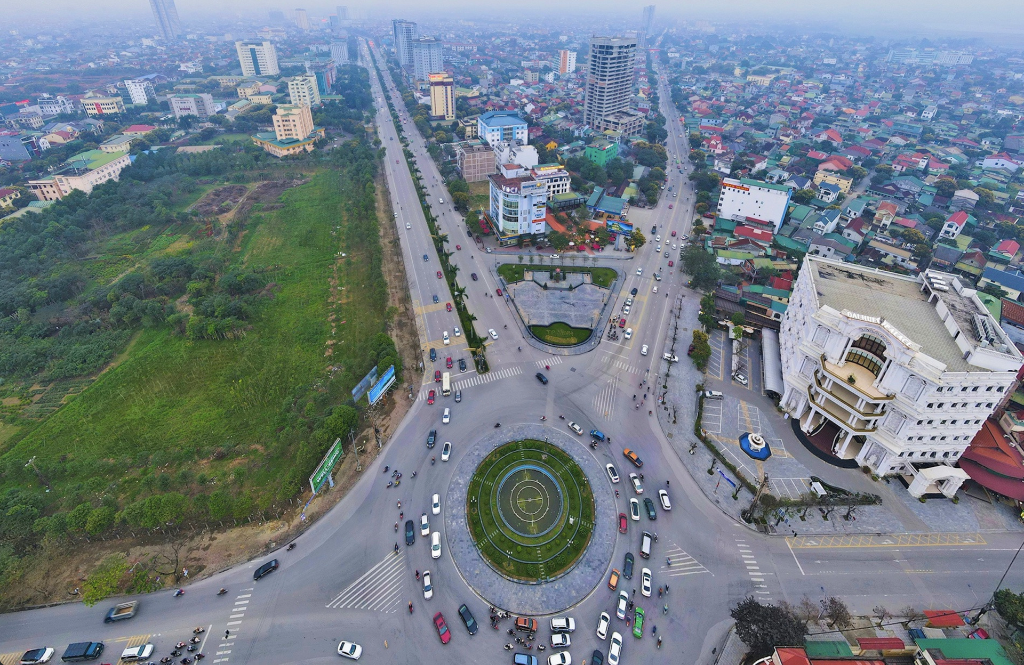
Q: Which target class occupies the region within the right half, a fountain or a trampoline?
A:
fountain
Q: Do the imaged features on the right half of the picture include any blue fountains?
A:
Yes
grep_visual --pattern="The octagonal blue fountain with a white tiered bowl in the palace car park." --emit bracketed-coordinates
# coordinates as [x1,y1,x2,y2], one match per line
[738,435,773,460]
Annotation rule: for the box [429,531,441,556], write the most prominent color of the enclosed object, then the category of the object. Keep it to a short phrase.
white vehicle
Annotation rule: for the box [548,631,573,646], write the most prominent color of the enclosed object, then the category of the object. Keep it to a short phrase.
white car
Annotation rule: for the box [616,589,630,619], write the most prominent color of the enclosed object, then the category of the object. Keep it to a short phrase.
white car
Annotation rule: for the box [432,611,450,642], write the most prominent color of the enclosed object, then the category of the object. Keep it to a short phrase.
red car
